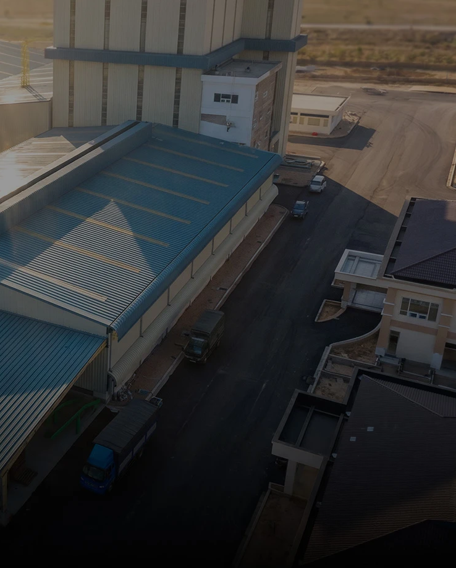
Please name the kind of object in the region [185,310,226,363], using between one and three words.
truck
